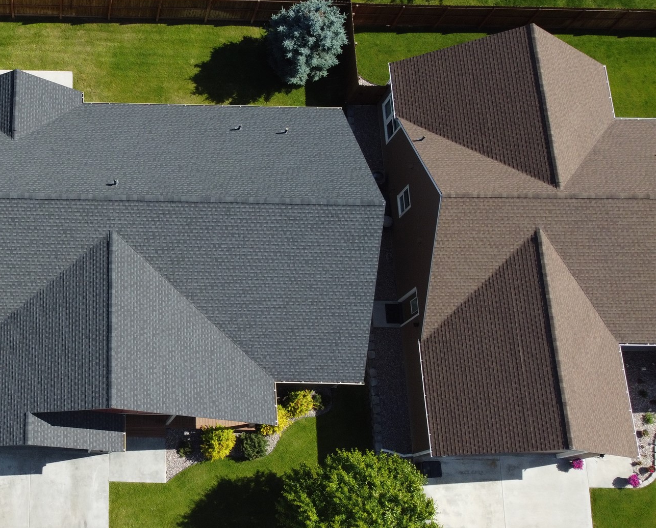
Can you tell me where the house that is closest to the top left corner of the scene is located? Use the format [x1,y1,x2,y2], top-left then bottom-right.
[0,69,380,455]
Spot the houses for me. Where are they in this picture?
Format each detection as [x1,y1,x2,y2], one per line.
[0,69,380,455]
[379,21,656,462]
